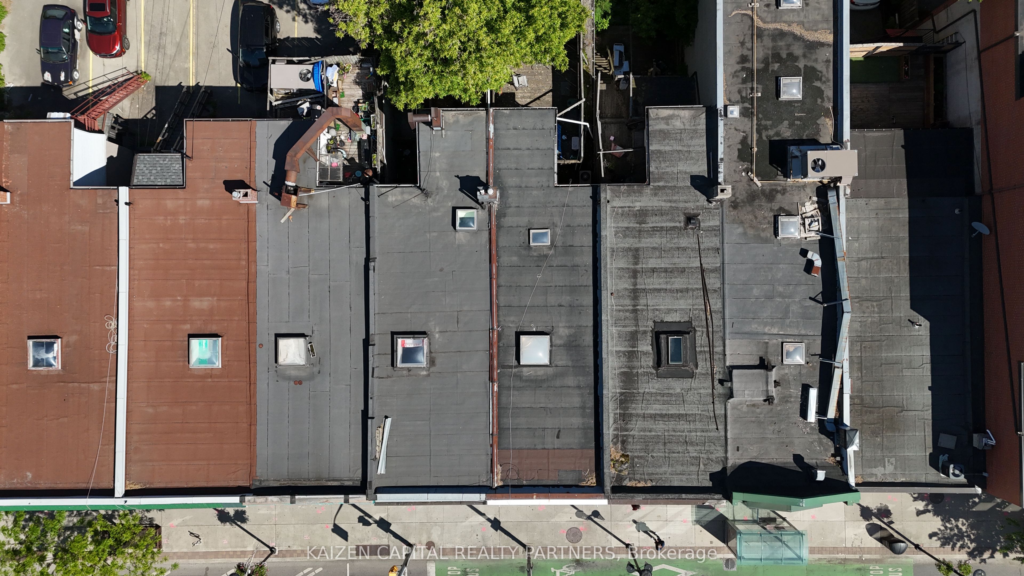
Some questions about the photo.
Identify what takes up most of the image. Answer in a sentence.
The largest share of the image is taken up by buildings.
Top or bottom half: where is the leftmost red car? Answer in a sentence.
You can find the leftmost red car in the top half.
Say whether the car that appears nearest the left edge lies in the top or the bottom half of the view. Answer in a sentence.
The top half of the photo is where the car that appears nearest the left edge is.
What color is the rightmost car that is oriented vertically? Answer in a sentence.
From above, the rightmost car that is oriented vertically appears black.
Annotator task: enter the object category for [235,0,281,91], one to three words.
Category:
car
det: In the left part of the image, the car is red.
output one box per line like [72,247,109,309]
[81,0,131,61]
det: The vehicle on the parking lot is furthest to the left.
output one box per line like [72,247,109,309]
[34,4,80,88]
